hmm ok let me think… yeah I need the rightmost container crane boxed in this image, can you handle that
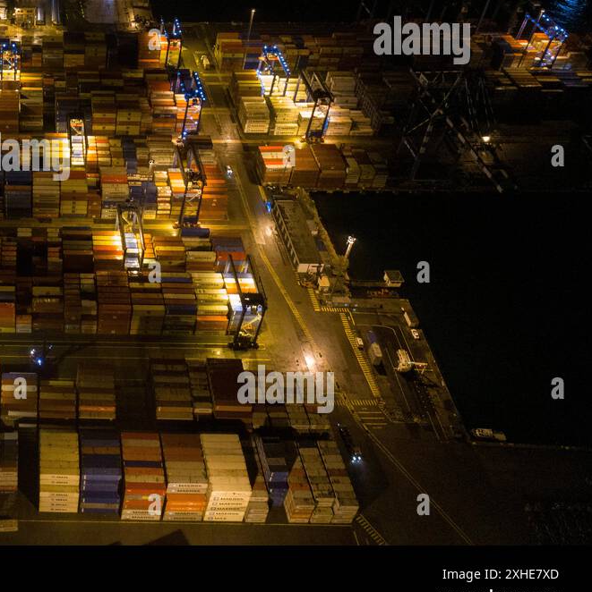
[528,17,574,69]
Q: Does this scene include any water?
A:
Yes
